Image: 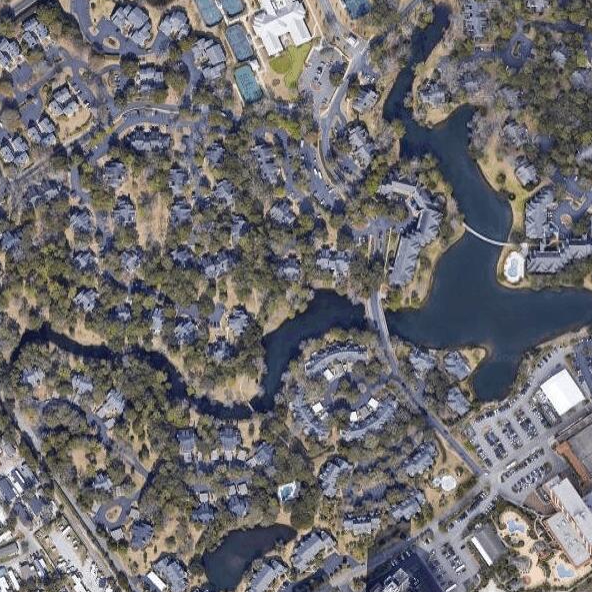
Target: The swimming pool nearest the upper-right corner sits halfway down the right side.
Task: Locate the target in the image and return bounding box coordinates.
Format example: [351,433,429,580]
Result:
[504,252,525,282]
